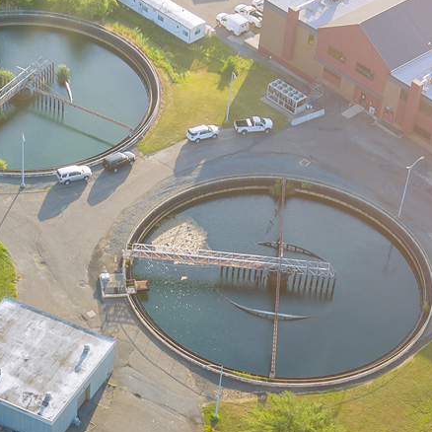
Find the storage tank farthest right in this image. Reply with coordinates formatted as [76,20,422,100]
[117,169,432,392]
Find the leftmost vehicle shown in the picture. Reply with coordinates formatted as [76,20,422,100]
[55,163,94,183]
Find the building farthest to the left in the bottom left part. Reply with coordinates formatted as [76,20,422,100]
[0,291,122,432]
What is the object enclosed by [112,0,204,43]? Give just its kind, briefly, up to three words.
trailer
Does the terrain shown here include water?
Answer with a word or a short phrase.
Yes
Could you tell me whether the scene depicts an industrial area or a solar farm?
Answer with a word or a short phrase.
industrial area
